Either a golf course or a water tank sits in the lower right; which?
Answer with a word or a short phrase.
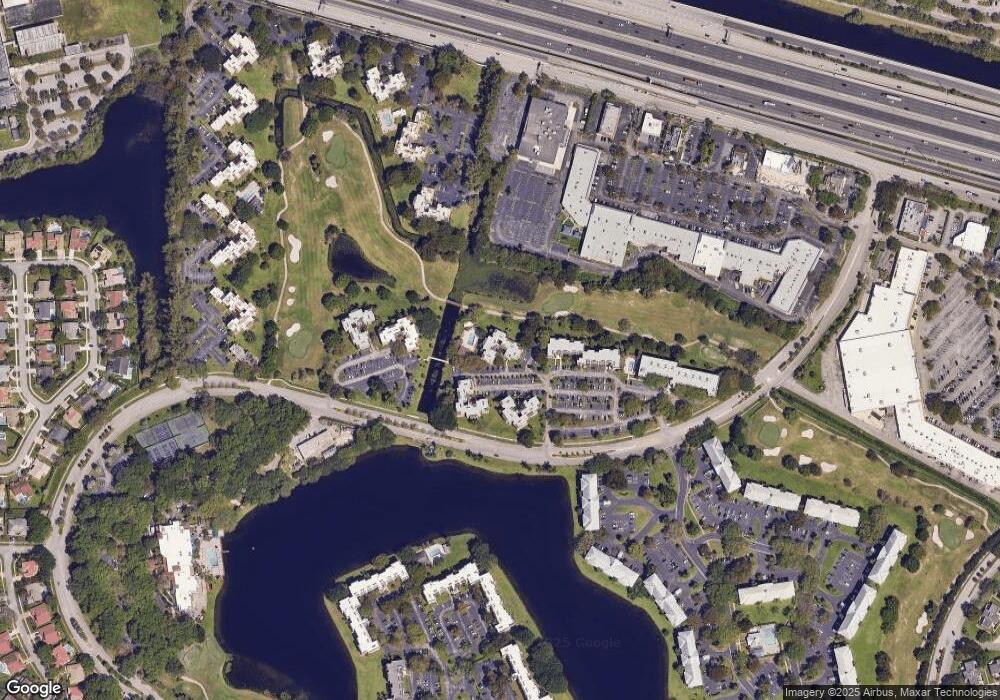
golf course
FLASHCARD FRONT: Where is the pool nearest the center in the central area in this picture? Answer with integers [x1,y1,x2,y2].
[463,326,478,350]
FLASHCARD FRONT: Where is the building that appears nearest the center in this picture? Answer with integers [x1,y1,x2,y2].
[481,329,521,361]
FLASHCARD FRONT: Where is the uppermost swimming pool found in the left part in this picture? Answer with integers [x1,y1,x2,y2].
[378,108,396,134]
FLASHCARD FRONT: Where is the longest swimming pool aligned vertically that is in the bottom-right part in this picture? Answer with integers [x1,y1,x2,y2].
[765,624,780,656]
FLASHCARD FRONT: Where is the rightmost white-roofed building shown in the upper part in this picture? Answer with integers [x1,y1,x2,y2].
[953,222,990,254]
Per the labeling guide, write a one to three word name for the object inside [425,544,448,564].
swimming pool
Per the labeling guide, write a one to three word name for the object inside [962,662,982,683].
house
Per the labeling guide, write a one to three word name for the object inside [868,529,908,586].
building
